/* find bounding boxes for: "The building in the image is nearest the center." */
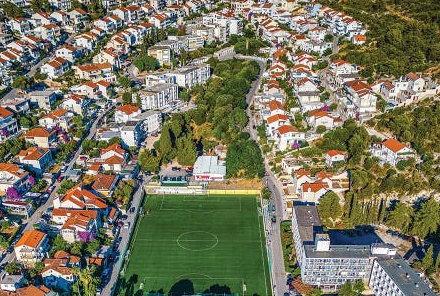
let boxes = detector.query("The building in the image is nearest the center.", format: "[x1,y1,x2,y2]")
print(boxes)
[193,159,226,186]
